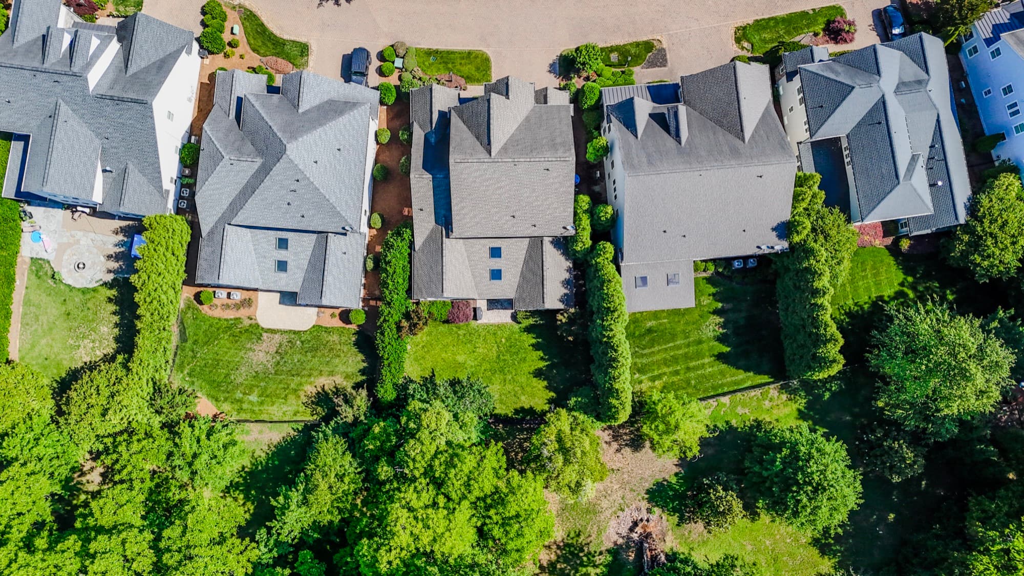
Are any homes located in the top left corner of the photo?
Yes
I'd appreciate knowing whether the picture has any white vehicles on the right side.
No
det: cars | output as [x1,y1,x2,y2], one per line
[351,46,374,86]
[878,1,908,46]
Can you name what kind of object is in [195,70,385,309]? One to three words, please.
house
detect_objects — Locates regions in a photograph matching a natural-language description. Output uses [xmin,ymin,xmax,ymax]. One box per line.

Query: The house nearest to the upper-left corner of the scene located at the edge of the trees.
[0,0,207,218]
